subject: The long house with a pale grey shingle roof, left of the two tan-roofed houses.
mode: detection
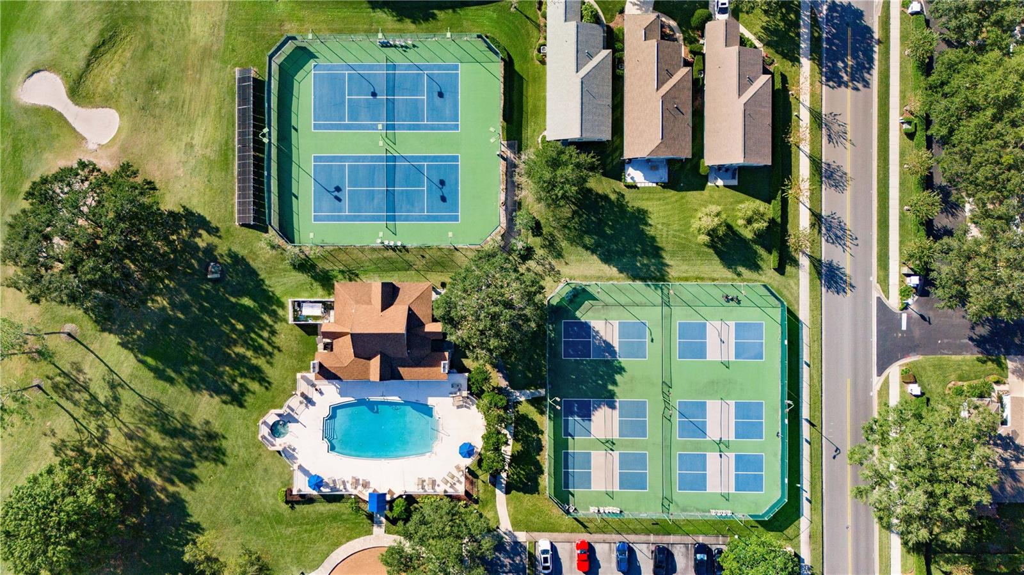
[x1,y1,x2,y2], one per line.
[546,0,613,141]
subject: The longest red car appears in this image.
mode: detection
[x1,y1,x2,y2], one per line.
[575,540,590,573]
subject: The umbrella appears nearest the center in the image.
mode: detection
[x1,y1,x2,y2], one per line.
[459,442,476,459]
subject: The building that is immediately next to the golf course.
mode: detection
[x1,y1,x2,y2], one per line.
[310,281,451,384]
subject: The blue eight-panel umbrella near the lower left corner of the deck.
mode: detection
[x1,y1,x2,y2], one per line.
[307,474,324,491]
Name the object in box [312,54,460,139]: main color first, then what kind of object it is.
blue tennis court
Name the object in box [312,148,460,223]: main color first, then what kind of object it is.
blue tennis court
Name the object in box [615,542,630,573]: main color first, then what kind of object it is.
blue car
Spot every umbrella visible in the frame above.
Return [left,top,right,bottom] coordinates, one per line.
[307,474,324,491]
[459,442,476,459]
